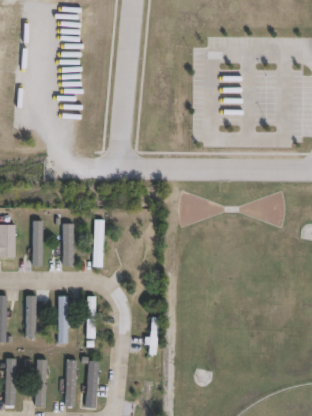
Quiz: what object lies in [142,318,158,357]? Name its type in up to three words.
house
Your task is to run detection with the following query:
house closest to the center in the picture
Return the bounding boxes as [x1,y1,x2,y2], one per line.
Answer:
[92,220,105,268]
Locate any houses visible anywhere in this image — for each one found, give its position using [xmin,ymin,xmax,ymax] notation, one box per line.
[4,360,18,407]
[32,221,44,266]
[0,224,18,259]
[26,296,38,340]
[86,297,98,340]
[35,360,48,409]
[66,360,78,410]
[58,297,68,345]
[62,224,74,267]
[142,318,158,357]
[92,220,105,268]
[85,362,100,410]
